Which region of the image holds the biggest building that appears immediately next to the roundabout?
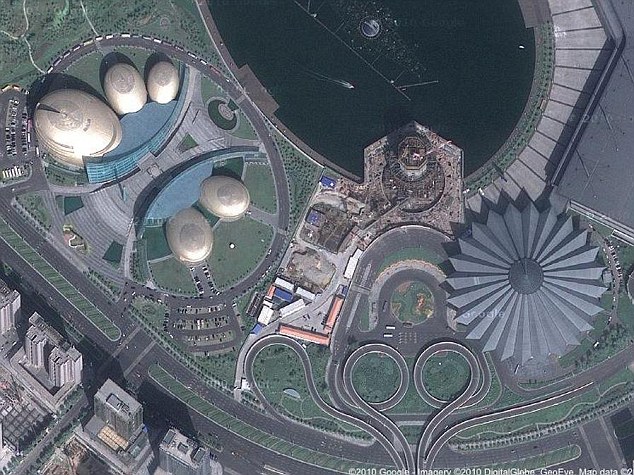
right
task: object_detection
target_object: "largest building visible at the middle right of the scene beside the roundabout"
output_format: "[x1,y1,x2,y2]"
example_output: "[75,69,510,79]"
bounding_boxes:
[446,201,612,366]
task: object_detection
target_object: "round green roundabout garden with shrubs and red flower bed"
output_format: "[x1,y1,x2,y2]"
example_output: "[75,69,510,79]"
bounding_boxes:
[391,282,435,327]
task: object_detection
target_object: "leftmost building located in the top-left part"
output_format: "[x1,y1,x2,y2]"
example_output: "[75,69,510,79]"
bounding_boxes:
[85,59,191,184]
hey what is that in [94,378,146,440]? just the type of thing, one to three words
building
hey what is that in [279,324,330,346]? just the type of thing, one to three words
shed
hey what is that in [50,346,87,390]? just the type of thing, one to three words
building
